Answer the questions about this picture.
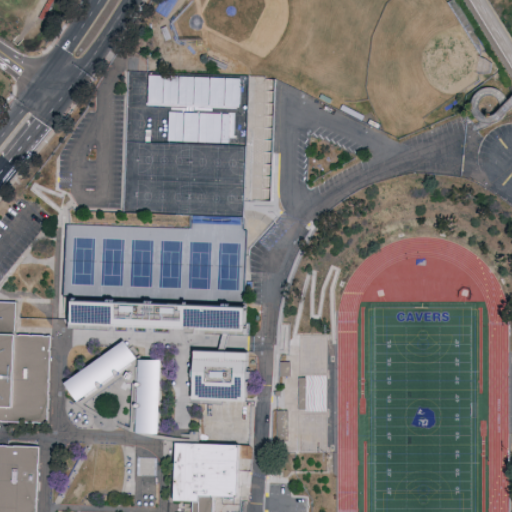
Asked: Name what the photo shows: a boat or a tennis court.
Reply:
tennis court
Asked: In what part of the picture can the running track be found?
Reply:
bottom right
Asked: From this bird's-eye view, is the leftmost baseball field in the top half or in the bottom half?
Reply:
top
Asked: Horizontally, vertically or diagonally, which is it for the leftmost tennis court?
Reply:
vertically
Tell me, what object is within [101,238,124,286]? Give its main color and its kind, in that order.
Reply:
blue tennis court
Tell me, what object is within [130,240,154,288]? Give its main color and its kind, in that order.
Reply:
blue tennis court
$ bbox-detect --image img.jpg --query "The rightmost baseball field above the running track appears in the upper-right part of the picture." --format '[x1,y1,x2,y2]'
[422,28,492,94]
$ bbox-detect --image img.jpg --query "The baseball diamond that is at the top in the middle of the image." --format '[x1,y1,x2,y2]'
[176,0,288,58]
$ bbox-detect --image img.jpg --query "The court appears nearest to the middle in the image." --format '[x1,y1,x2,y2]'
[218,242,240,290]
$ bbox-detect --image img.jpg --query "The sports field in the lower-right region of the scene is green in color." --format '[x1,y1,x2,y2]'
[358,302,488,512]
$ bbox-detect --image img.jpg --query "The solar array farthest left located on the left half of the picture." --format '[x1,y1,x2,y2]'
[72,306,110,324]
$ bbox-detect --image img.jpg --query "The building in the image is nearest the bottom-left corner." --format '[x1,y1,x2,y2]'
[0,446,40,512]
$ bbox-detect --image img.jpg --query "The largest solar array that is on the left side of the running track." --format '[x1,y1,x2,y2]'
[184,310,238,328]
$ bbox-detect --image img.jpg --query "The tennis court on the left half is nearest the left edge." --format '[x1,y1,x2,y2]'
[72,238,96,285]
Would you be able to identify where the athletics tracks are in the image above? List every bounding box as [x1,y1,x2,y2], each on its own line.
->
[338,236,508,512]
